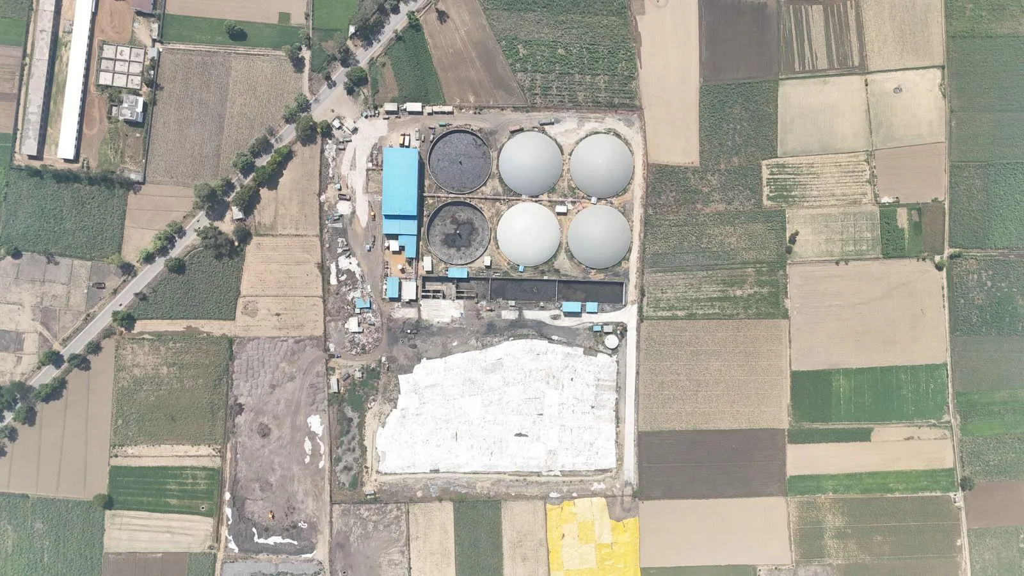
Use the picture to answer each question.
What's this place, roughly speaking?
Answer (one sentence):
It's an industrial area.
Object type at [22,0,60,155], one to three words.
shed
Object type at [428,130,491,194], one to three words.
storage tank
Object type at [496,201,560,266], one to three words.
storage tank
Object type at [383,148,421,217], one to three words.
building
